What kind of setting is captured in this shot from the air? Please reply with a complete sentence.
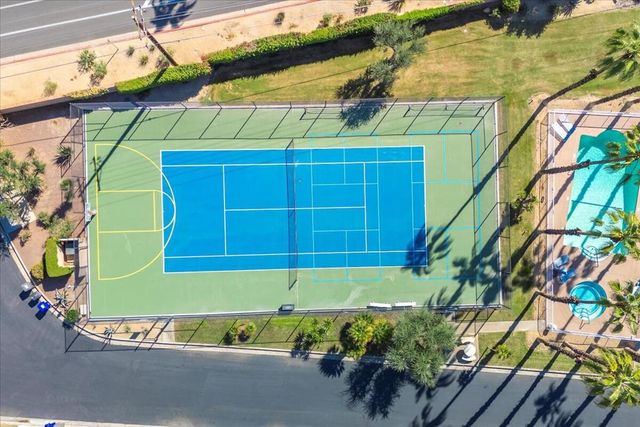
What you see here is a sports ground.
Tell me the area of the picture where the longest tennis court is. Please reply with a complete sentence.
Look in the center portion of the view to spot the longest tennis court.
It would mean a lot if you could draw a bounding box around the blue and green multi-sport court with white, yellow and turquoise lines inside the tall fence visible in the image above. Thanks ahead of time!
[83,101,504,321]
